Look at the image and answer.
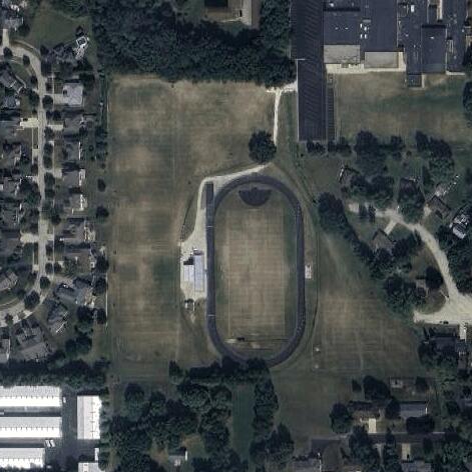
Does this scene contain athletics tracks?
Yes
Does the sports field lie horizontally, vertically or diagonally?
vertically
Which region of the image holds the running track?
center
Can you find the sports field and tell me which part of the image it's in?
center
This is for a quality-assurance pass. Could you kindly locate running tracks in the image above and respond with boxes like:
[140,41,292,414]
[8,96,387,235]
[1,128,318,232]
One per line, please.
[206,174,305,365]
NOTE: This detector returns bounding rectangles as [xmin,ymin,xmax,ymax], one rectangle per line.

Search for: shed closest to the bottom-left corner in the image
[0,448,45,468]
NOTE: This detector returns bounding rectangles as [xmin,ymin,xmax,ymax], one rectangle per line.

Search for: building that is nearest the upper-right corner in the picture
[324,0,467,86]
